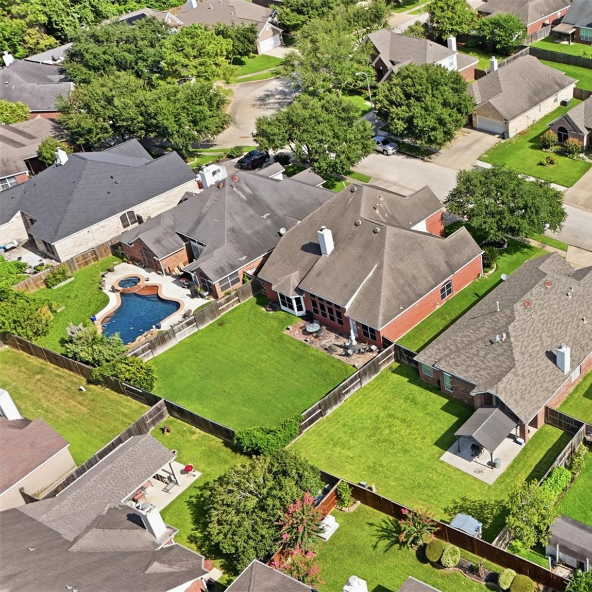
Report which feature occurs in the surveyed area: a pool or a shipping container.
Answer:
pool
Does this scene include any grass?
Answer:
Yes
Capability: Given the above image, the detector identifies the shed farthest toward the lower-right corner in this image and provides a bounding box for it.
[545,510,592,570]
